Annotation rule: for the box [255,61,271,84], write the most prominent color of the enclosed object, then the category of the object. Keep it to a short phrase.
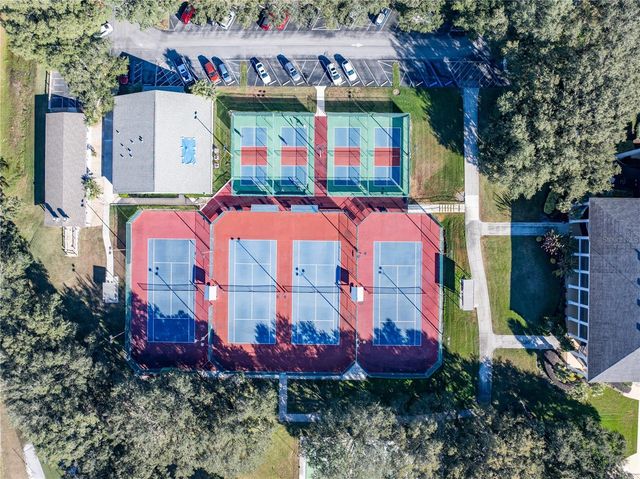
white car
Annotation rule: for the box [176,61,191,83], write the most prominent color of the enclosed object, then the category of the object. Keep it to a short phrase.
blue car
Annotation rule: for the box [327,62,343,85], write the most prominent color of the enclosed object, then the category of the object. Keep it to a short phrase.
white car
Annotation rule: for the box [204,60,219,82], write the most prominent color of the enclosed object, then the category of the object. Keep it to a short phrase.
red car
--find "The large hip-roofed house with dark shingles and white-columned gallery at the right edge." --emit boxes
[561,197,640,383]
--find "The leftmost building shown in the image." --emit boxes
[46,110,94,227]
